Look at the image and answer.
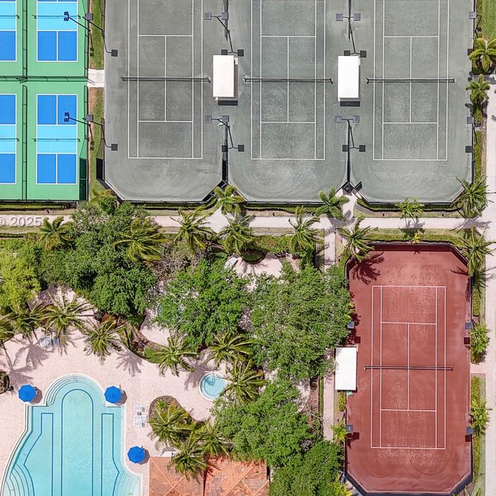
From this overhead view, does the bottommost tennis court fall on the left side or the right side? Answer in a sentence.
The bottommost tennis court sits on the right side.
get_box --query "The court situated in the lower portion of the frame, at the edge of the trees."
[346,243,472,493]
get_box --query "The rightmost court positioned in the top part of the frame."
[350,0,475,203]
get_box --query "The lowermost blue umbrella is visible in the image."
[128,446,145,463]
